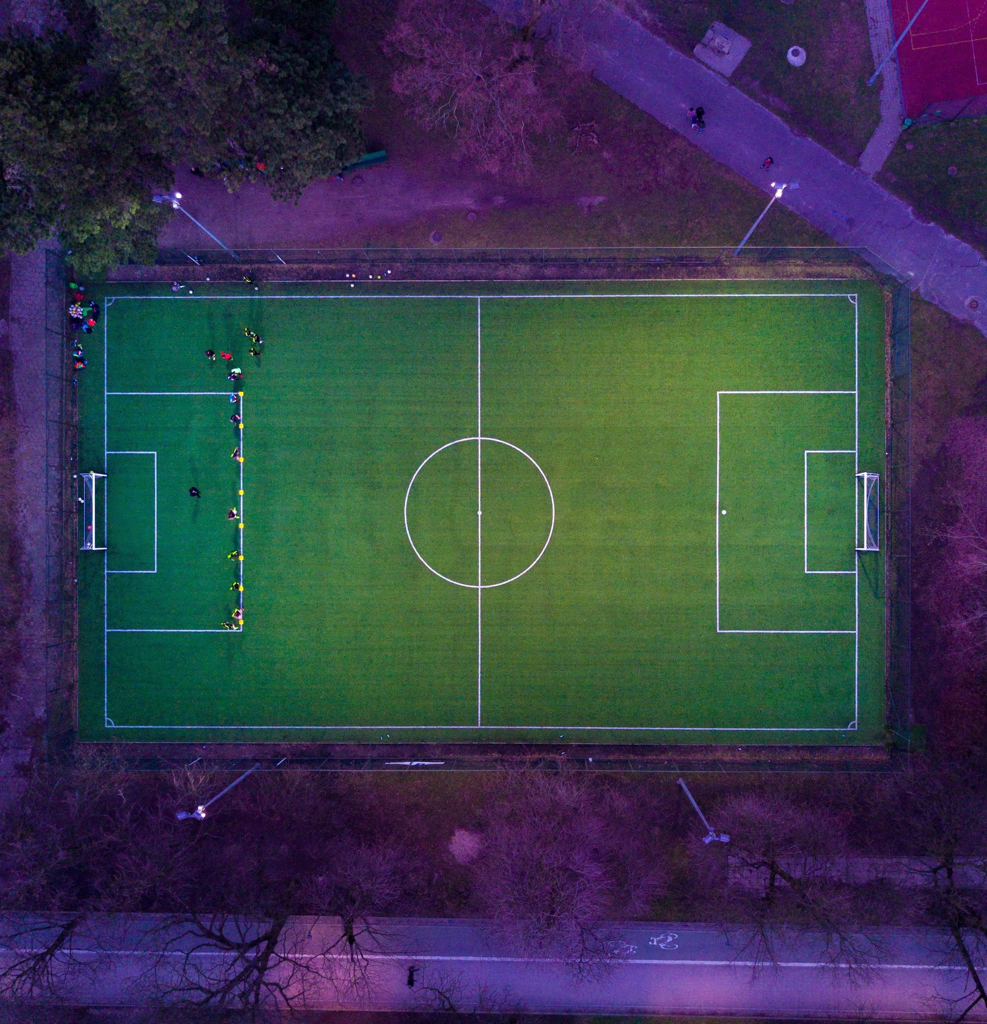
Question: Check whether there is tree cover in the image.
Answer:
Yes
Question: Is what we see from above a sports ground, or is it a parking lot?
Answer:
sports ground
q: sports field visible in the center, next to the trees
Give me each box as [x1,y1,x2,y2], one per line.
[77,279,886,745]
